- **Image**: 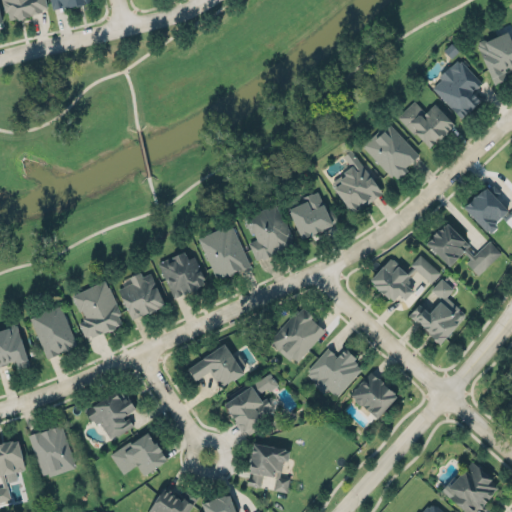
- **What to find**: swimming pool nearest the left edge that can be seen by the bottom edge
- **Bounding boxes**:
[9,480,28,505]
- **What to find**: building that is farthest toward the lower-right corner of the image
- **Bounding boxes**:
[444,462,498,512]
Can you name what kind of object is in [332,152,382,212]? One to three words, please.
house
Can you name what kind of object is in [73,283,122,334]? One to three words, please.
house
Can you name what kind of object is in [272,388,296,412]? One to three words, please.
swimming pool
